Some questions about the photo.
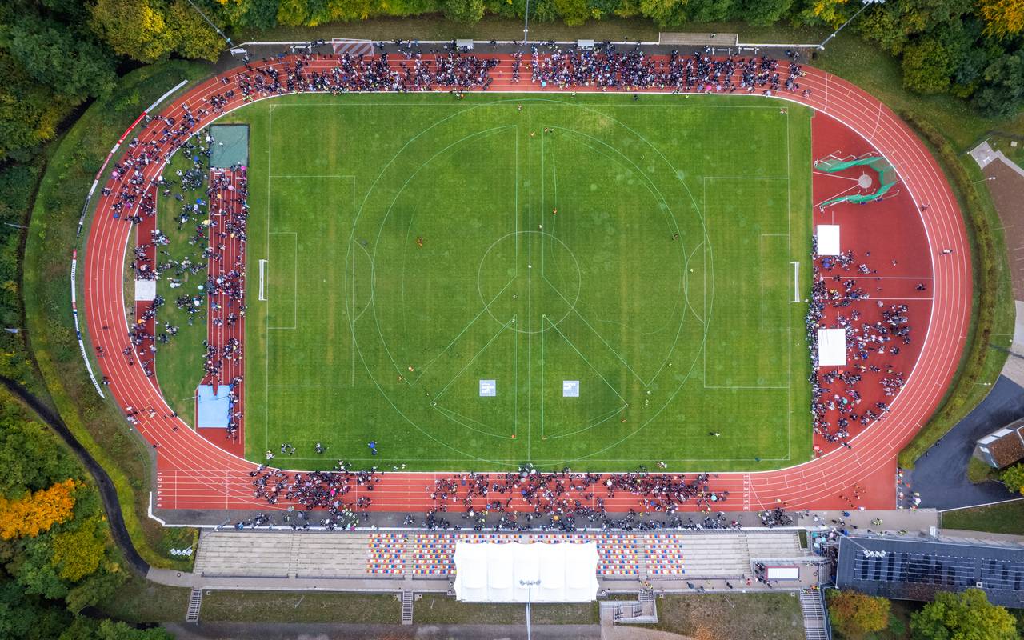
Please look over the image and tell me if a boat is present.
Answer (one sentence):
No, the picture doesn't show any boat.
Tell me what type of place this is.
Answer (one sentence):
This looks like a sports ground.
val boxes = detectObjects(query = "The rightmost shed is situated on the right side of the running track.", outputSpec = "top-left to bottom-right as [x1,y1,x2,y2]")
[968,411,1024,468]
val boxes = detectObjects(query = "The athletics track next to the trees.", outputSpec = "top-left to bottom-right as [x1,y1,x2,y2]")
[83,54,972,512]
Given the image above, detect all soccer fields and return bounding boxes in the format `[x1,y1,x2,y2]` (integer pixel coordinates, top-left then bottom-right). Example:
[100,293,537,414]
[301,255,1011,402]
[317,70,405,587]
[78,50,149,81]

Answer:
[247,93,813,472]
